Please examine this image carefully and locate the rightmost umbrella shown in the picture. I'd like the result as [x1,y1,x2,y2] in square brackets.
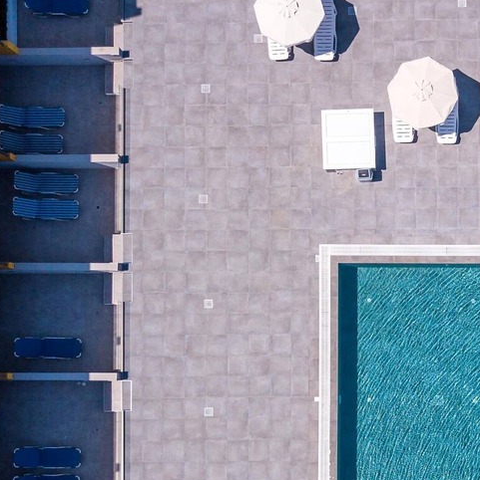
[387,57,459,130]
